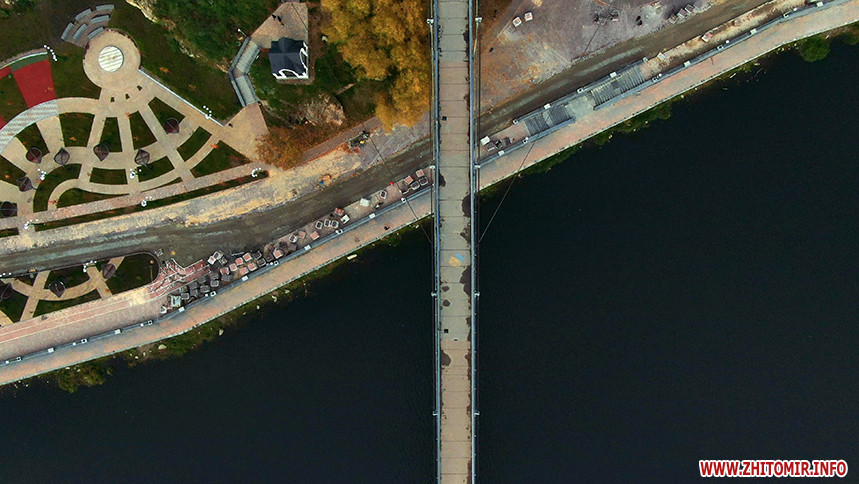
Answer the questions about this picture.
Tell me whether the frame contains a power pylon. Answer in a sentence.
No, there's no power pylon here.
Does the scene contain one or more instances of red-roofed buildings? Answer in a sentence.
No, no red-roofed building can be seen from above.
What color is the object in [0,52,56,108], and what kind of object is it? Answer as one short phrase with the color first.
red sports court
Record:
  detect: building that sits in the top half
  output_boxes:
[267,29,308,79]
